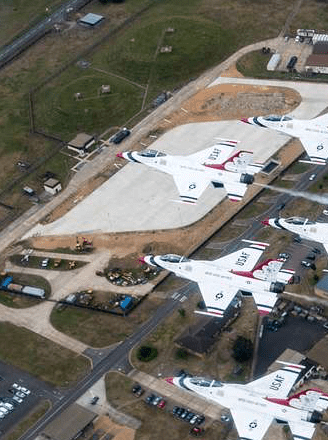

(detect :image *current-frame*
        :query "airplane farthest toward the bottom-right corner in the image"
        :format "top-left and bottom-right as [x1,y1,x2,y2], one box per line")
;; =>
[155,361,328,440]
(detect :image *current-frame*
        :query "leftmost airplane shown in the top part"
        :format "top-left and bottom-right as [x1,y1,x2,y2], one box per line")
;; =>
[106,138,262,204]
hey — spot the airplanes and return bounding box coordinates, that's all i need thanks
[235,112,328,164]
[155,361,328,440]
[106,138,262,204]
[252,220,328,256]
[131,241,295,317]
